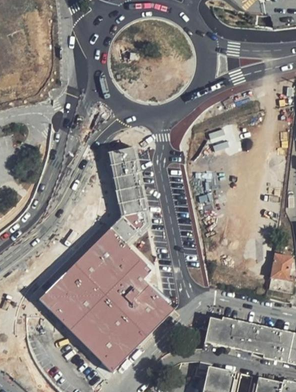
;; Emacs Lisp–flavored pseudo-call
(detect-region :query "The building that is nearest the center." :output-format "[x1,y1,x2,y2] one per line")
[108,147,150,244]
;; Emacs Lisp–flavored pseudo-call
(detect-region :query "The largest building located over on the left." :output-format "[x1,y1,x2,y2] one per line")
[38,230,174,374]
